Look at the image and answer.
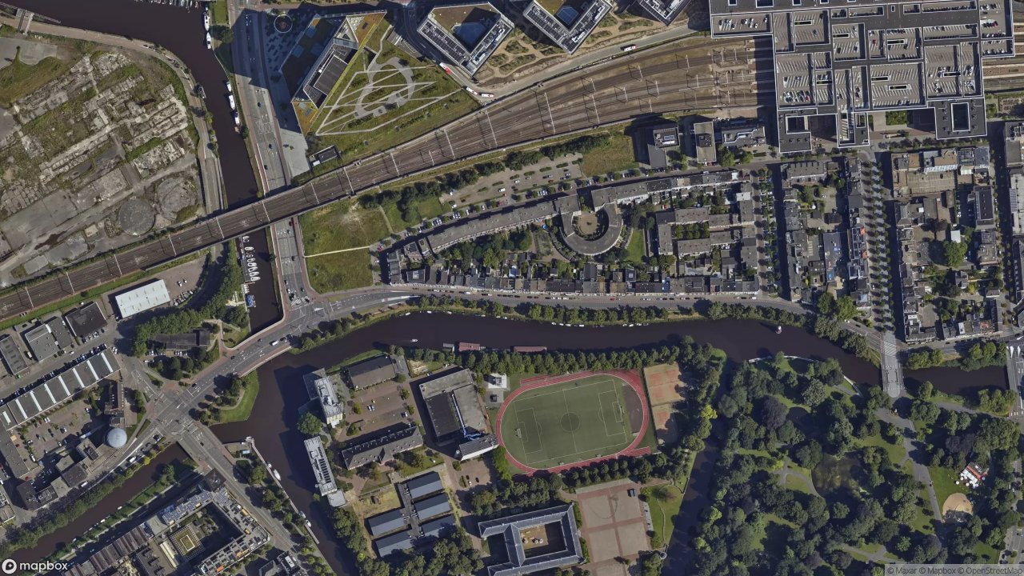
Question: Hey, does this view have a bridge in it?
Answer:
Yes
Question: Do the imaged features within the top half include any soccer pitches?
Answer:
No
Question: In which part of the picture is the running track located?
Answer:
bottom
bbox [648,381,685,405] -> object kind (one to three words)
tennis court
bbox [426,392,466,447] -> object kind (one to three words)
building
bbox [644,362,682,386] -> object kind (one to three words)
tennis court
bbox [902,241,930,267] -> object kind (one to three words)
house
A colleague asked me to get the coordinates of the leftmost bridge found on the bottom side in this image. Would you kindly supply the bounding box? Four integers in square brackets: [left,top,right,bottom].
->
[177,426,223,461]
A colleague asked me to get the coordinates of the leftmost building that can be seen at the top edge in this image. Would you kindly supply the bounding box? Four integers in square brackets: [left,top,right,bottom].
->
[280,12,387,140]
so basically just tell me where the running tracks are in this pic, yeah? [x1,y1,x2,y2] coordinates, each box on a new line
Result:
[495,369,651,475]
